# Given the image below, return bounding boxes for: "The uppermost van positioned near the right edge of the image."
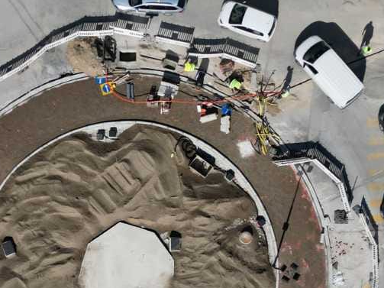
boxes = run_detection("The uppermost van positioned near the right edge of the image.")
[295,31,366,110]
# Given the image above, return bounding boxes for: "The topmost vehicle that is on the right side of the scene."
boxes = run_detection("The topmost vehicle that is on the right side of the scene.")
[216,0,279,42]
